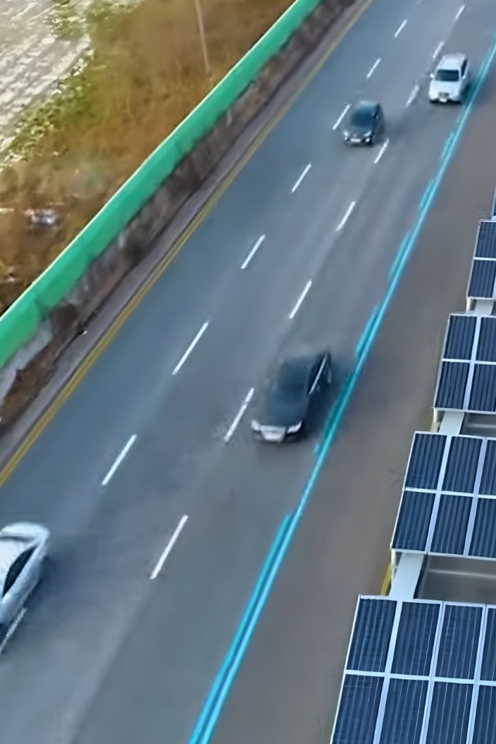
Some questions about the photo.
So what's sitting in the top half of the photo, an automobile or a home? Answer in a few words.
automobile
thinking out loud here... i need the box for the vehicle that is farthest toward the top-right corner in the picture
[430,54,471,100]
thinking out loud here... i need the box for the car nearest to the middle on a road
[254,352,330,442]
